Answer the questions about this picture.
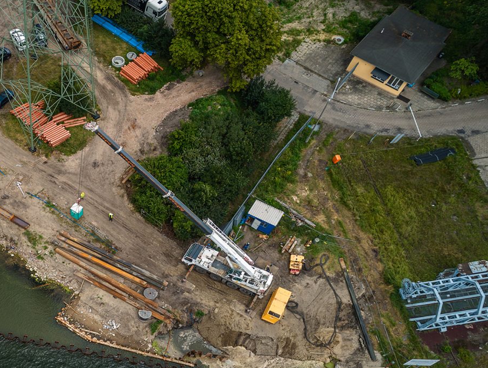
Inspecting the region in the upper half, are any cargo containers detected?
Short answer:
No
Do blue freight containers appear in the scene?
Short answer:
No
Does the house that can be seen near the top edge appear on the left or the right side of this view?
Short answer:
right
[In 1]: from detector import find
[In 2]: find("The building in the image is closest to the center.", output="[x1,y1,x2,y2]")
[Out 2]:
[245,201,283,234]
